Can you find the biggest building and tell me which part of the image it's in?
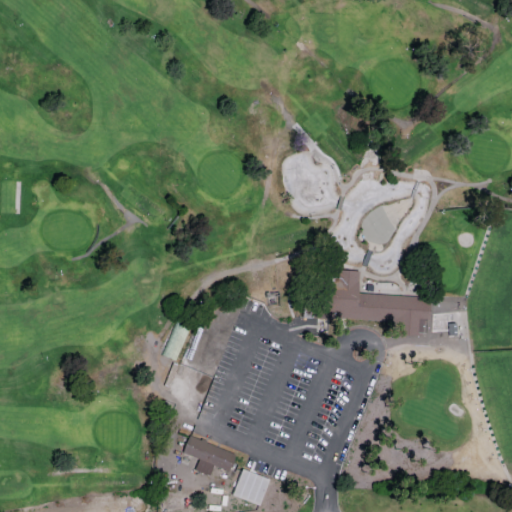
right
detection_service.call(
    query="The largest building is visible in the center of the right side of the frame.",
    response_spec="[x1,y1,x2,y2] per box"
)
[330,270,434,338]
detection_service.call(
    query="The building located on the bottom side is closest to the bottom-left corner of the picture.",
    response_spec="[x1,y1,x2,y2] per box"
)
[182,436,237,475]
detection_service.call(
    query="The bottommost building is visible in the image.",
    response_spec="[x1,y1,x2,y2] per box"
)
[231,469,270,506]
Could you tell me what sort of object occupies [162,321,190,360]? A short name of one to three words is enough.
shed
